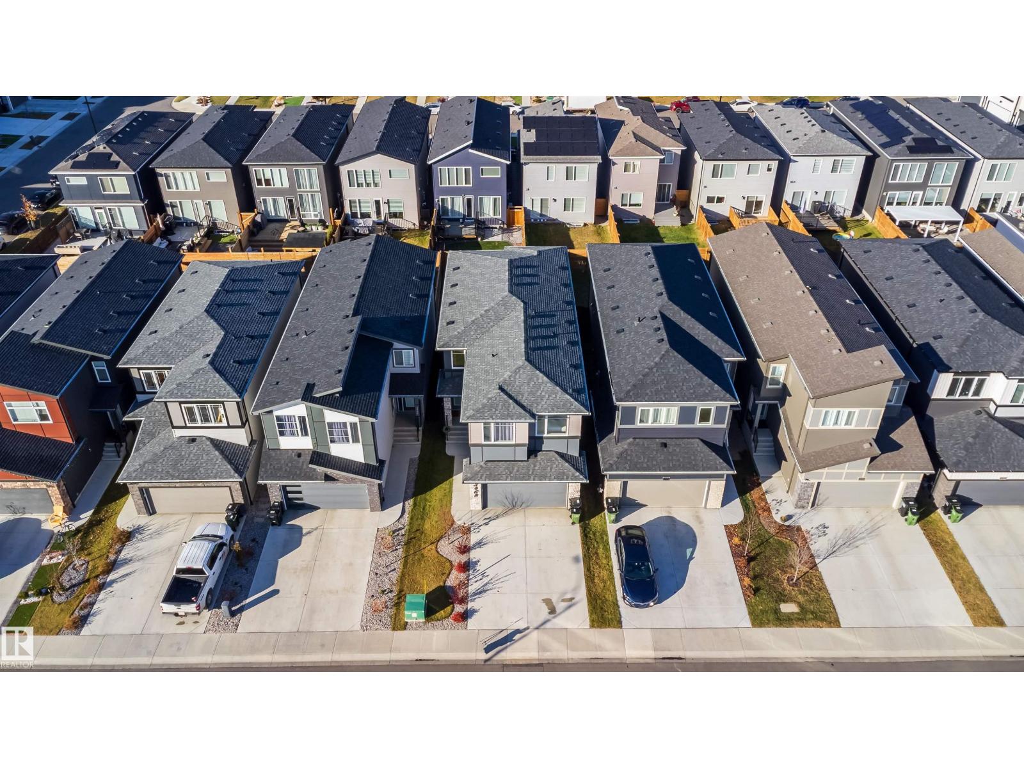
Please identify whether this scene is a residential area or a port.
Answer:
residential area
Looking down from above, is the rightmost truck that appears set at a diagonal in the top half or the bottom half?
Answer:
bottom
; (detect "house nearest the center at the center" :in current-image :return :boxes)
[435,247,591,509]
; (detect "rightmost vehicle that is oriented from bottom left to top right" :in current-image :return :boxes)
[157,526,237,618]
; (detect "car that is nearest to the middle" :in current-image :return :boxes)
[615,530,663,606]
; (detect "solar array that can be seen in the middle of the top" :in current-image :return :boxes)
[523,117,603,154]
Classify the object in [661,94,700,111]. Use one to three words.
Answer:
car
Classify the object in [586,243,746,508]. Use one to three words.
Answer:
house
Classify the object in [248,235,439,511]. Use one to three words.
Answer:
house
